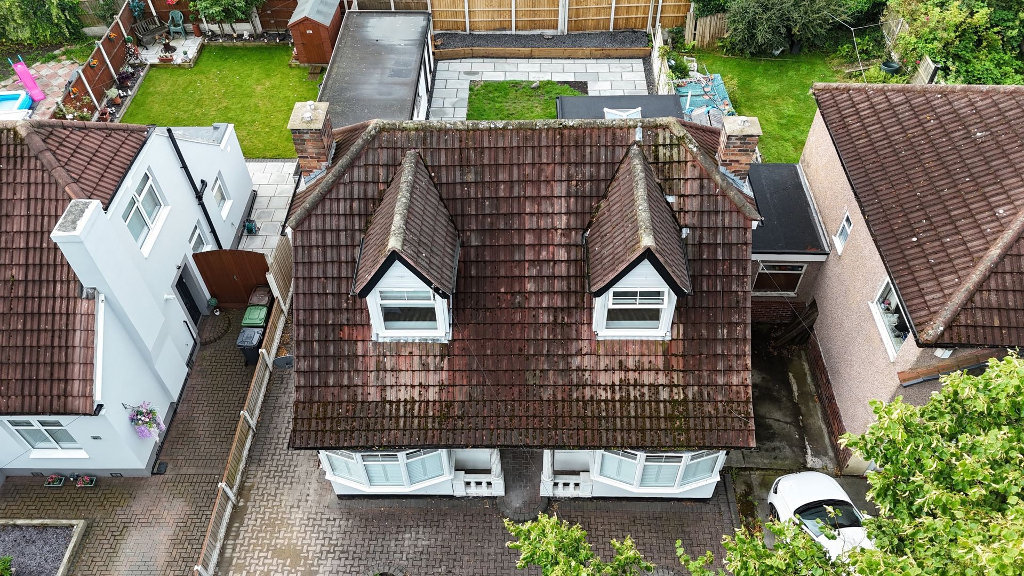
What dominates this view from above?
buildings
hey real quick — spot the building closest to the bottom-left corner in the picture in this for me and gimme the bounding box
[0,115,254,475]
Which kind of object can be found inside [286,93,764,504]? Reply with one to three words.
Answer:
house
